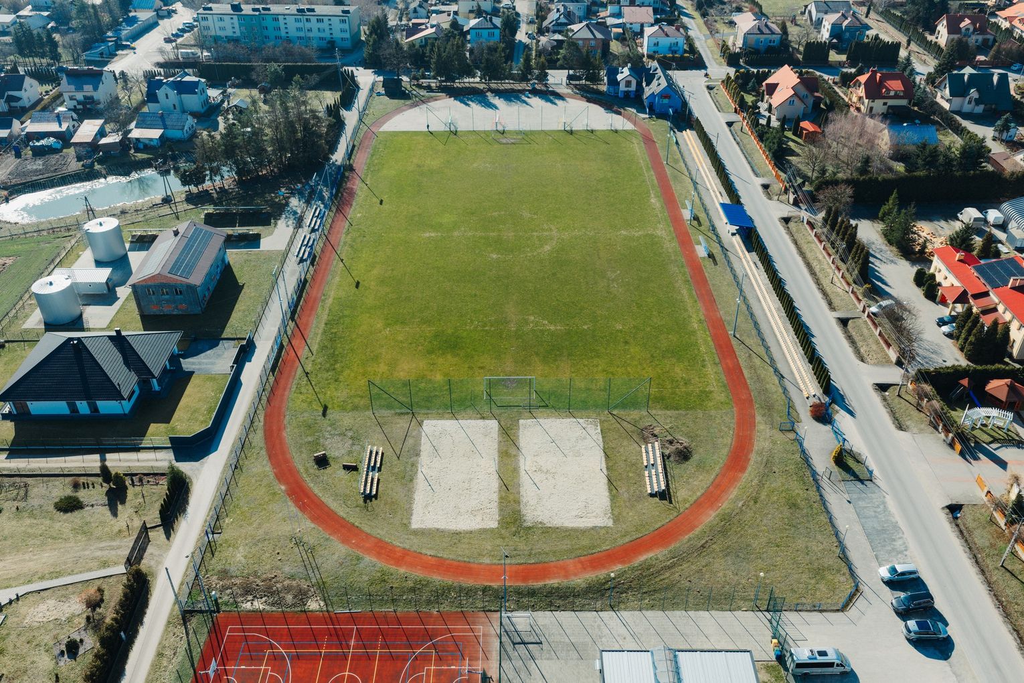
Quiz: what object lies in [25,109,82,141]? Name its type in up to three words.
shed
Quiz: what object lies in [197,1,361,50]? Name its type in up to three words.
building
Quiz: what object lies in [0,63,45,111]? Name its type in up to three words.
house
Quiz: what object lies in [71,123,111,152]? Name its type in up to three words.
shed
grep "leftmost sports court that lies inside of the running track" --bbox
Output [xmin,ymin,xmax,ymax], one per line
[408,419,501,532]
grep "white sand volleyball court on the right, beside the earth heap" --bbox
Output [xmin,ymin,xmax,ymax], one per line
[517,418,614,529]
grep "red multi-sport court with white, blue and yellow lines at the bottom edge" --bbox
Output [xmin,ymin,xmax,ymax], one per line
[185,611,501,683]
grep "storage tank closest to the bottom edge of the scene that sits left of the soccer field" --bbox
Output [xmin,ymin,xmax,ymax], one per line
[28,274,86,329]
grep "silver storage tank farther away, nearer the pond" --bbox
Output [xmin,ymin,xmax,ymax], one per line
[82,217,130,264]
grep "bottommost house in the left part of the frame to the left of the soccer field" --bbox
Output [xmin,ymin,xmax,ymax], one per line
[0,326,188,423]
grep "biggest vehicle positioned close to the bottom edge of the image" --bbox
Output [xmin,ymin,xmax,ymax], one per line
[790,646,855,678]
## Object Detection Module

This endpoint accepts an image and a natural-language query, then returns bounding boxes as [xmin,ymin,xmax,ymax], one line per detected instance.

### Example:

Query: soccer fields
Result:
[289,130,731,415]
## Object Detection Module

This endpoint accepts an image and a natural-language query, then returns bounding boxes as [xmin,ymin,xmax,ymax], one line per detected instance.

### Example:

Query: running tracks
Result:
[263,89,756,586]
